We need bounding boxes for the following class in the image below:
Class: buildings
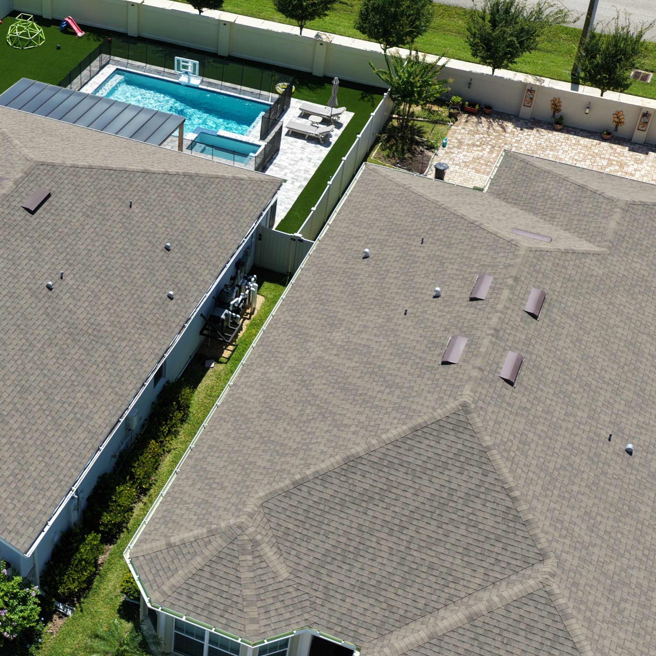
[0,110,286,626]
[124,150,656,656]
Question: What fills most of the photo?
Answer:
buildings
